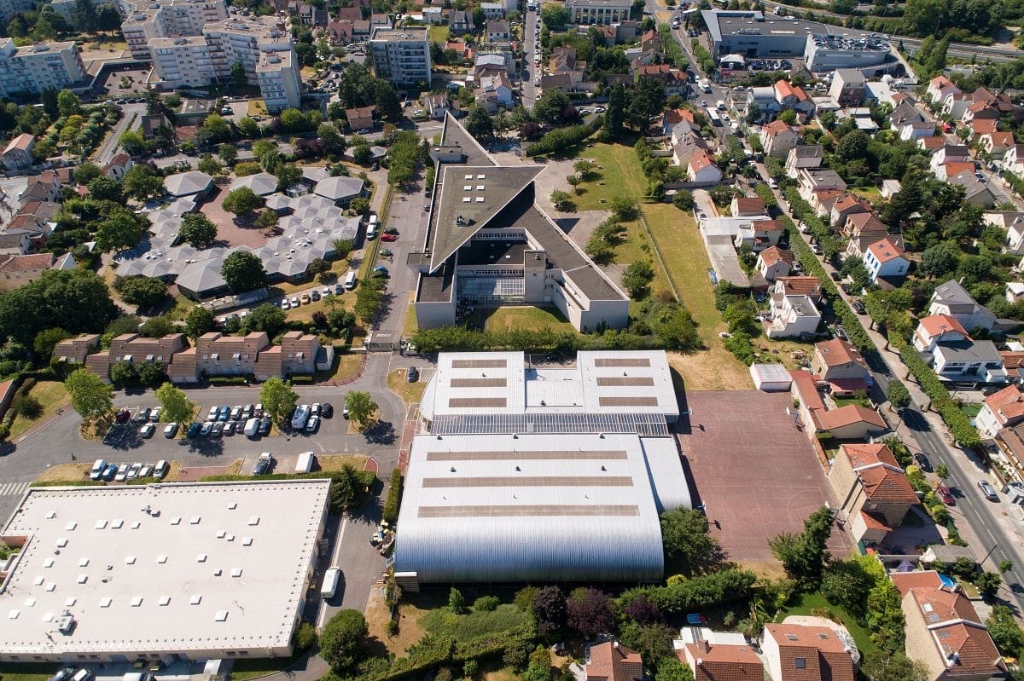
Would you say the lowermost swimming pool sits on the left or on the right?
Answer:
right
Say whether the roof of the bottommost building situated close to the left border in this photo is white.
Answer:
Yes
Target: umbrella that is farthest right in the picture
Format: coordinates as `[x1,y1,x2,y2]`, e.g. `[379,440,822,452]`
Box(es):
[893,557,918,574]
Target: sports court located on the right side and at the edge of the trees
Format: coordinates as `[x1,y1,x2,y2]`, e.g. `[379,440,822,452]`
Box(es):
[680,390,854,561]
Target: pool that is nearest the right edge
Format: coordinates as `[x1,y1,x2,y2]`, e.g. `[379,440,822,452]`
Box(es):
[930,569,965,589]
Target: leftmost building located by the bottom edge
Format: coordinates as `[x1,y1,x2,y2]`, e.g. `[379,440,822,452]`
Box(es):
[0,479,335,681]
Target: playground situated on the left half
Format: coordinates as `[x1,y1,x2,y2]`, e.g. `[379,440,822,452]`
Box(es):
[181,186,281,248]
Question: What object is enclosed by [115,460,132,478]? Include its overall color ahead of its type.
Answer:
white car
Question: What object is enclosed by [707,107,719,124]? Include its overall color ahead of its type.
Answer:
white vehicle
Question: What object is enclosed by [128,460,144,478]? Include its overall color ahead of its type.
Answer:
white car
